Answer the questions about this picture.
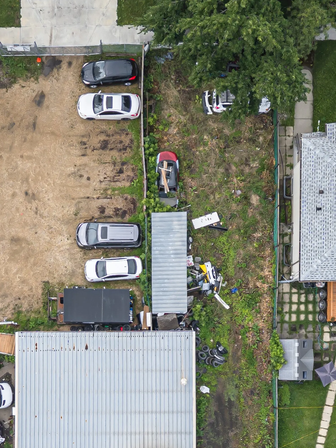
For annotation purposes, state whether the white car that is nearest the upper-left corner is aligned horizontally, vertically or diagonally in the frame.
horizontally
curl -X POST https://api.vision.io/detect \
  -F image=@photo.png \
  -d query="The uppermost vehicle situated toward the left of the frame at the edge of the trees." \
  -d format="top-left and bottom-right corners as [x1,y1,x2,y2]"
[82,56,139,88]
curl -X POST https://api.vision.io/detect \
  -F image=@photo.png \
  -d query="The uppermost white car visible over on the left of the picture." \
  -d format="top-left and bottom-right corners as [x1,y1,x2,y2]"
[78,90,141,122]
